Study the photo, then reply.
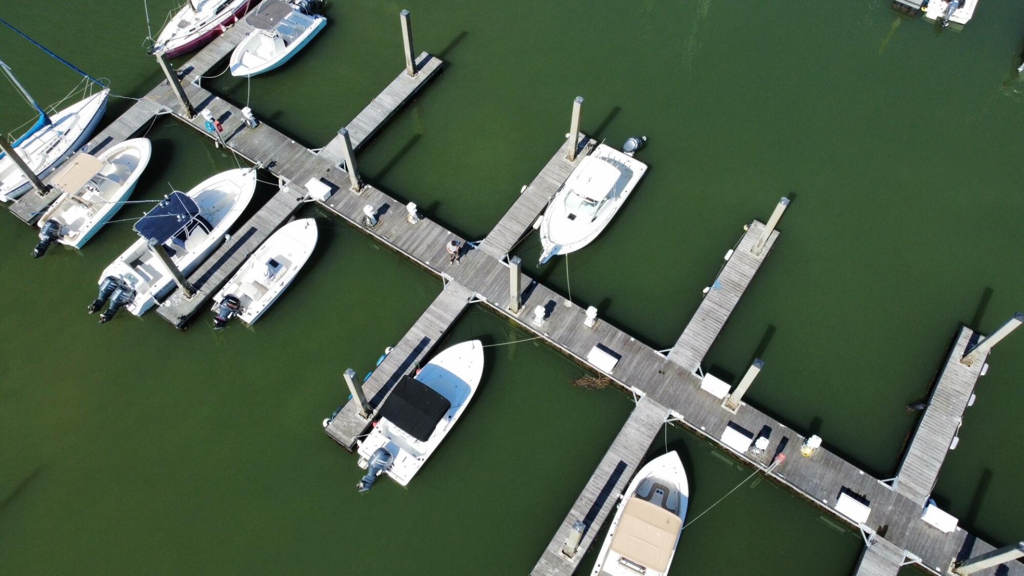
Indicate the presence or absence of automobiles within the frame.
No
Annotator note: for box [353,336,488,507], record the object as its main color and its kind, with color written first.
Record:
white boat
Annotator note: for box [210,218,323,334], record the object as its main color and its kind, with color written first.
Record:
white boat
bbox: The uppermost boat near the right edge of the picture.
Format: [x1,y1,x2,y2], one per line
[924,0,982,37]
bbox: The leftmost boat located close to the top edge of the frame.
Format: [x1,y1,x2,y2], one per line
[0,14,107,216]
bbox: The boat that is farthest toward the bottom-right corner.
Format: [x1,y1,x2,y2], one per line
[586,448,687,576]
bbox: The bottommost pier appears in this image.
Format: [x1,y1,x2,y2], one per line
[845,523,918,576]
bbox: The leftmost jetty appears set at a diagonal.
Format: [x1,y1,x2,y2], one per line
[6,97,172,228]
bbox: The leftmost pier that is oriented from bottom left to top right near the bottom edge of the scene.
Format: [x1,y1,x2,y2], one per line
[524,387,682,576]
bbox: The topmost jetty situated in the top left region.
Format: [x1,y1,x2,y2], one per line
[175,4,263,87]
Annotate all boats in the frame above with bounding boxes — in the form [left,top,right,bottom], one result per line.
[141,0,263,57]
[353,336,488,507]
[41,157,257,331]
[924,0,982,37]
[210,218,323,334]
[586,448,687,576]
[536,136,648,258]
[226,0,332,80]
[34,139,154,267]
[0,14,107,216]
